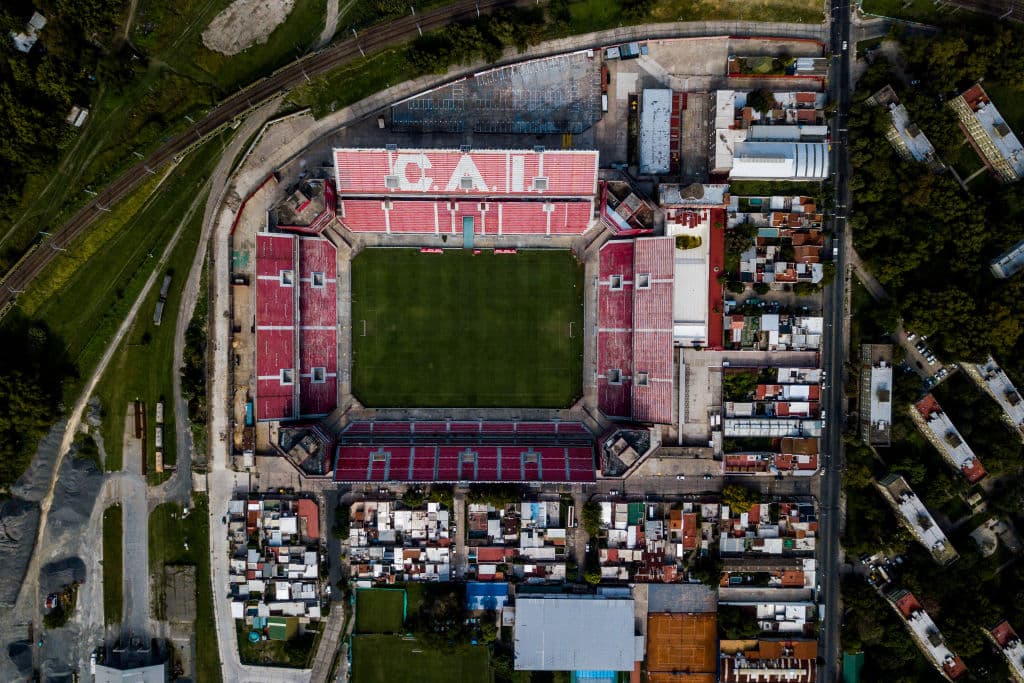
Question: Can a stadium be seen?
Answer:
Yes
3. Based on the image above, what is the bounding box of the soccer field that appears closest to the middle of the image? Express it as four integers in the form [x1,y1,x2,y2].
[352,247,583,408]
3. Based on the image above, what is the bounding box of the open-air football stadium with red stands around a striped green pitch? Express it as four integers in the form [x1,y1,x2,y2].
[255,144,674,486]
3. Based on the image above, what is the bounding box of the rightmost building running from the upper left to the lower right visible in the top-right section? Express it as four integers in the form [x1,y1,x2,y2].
[954,83,1024,180]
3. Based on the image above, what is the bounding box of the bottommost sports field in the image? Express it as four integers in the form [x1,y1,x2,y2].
[352,635,489,683]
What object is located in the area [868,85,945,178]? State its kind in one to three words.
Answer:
building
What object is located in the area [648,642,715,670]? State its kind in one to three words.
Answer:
tennis court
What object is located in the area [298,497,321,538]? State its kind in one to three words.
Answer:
house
